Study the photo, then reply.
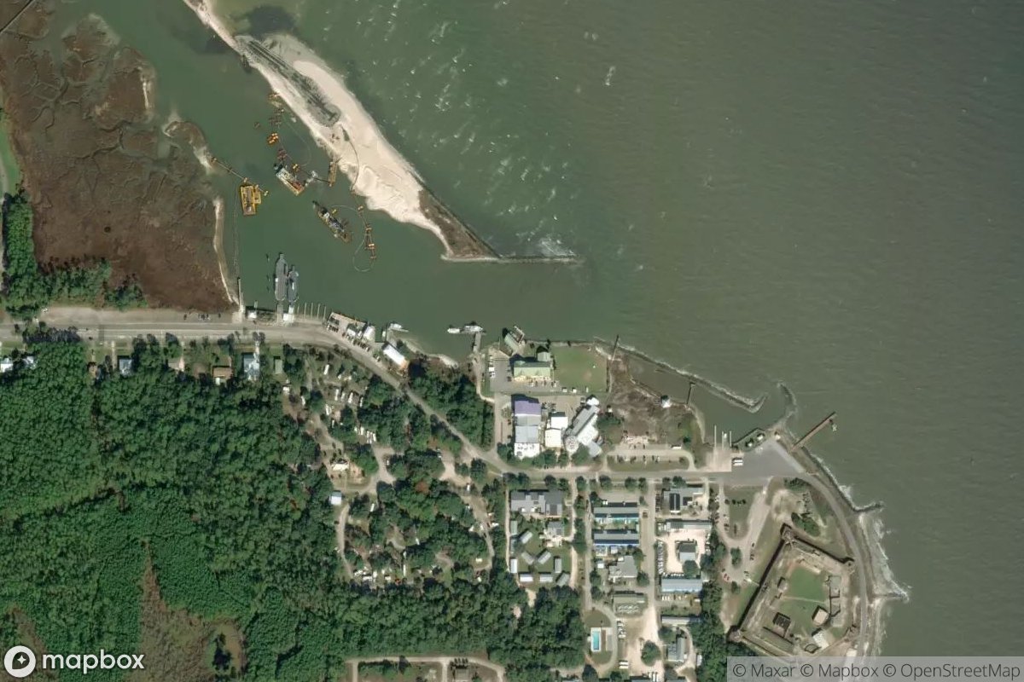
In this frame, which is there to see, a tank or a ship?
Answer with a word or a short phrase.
ship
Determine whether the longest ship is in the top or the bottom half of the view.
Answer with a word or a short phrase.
top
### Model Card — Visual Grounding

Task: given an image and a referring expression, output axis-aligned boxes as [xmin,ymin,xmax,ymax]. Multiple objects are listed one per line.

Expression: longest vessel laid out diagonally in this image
[211,157,269,215]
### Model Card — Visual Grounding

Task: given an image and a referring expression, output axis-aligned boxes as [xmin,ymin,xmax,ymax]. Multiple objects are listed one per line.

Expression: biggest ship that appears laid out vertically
[274,255,286,300]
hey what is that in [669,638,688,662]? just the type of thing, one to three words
house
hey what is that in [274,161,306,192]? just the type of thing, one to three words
ship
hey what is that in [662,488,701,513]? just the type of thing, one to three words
building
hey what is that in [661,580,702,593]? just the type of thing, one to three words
shed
